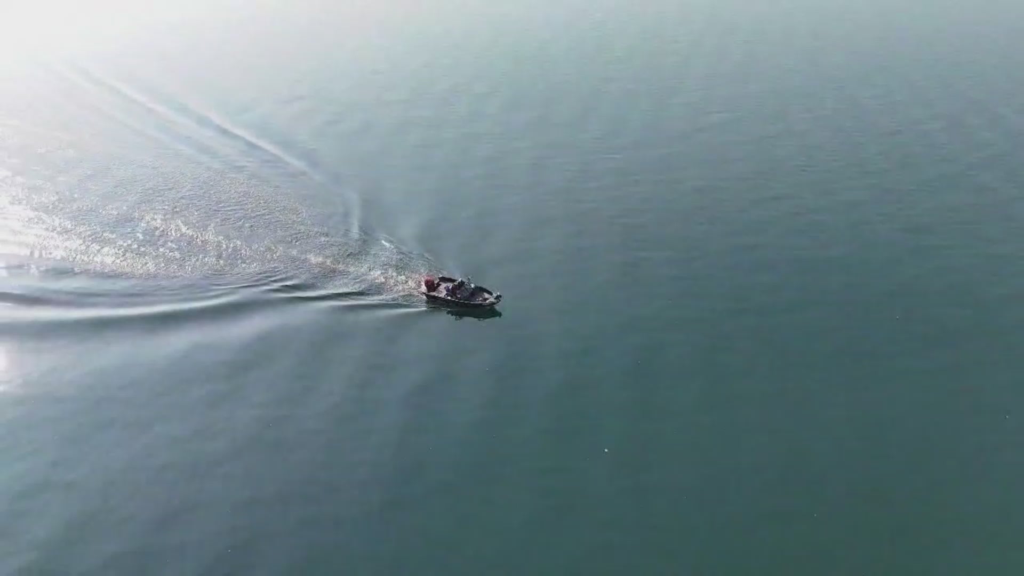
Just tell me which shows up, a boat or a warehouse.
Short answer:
boat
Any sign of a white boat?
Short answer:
No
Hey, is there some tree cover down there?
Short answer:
No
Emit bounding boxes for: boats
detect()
[423,274,503,310]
